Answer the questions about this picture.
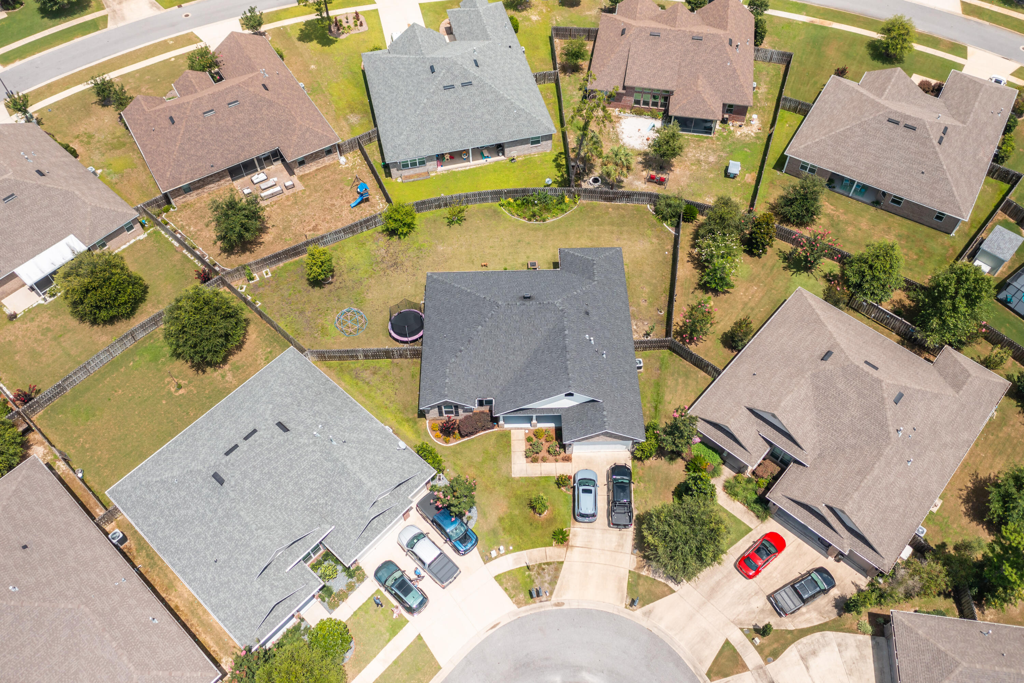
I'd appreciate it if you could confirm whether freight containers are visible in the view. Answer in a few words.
No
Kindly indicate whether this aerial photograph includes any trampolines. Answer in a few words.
Yes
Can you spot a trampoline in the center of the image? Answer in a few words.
Yes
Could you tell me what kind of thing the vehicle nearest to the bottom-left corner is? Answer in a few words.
car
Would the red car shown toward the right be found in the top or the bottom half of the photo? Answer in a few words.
bottom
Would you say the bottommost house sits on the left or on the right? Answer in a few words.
right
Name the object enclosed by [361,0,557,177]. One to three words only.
house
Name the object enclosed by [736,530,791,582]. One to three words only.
car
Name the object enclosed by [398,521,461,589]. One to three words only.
truck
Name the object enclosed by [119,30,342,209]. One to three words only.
house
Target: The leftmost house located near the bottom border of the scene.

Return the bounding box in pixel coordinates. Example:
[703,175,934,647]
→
[0,453,224,683]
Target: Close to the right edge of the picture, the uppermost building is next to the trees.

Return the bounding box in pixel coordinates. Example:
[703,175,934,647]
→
[782,69,1020,238]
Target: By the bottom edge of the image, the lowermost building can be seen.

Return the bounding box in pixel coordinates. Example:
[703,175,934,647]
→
[885,608,1024,683]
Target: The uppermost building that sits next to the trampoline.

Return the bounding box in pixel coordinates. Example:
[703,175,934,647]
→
[419,247,646,453]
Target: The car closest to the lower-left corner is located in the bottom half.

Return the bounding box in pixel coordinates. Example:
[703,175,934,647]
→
[375,560,430,617]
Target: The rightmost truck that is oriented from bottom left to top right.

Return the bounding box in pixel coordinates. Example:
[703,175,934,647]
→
[768,565,843,623]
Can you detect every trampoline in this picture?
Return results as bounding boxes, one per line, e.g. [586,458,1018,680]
[385,295,425,343]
